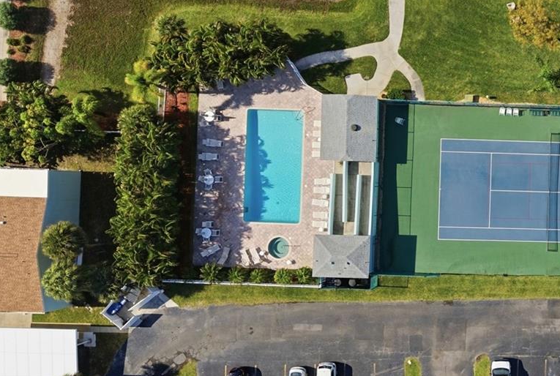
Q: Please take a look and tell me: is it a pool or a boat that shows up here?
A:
pool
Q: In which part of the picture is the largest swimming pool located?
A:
center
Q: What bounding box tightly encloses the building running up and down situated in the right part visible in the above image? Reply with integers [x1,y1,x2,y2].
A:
[313,93,379,278]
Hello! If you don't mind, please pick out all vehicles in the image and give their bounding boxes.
[489,360,511,376]
[289,366,309,376]
[227,367,248,376]
[315,362,337,376]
